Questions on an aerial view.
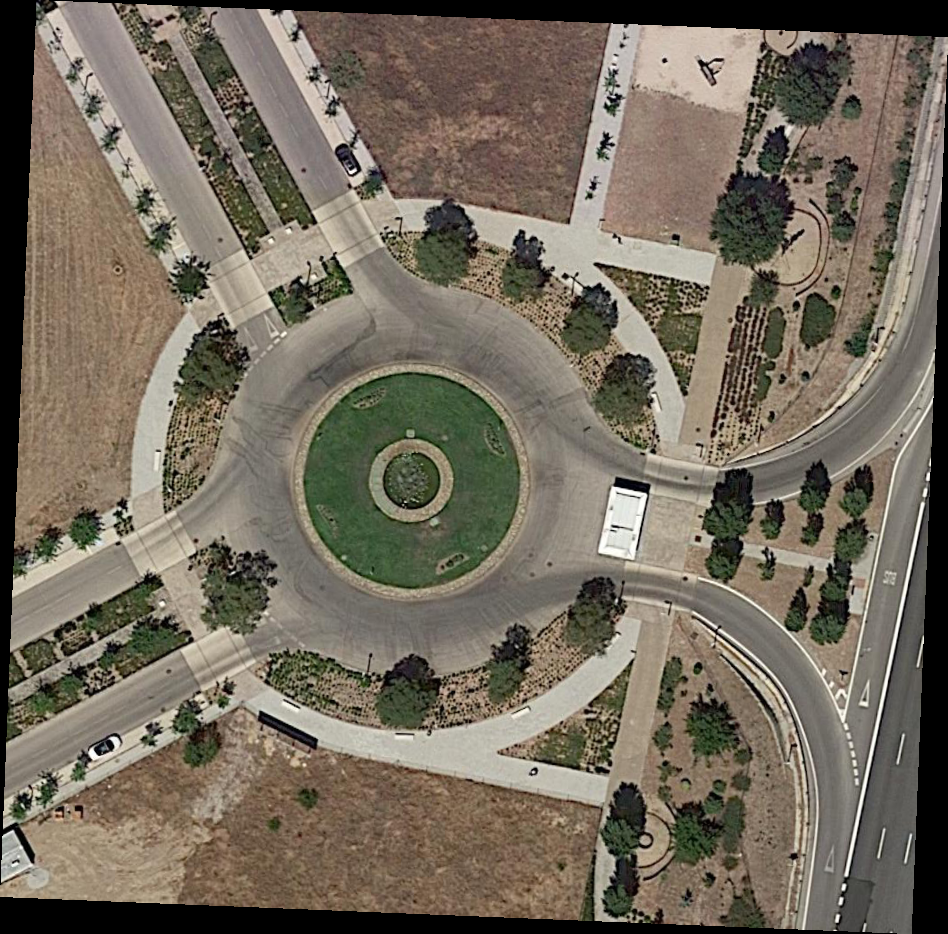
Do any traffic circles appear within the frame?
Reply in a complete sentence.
Yes, you can see a traffic circle in this photo.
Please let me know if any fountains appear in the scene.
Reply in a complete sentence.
Yes, a fountain appears in the view.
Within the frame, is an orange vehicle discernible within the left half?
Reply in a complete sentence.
No, looking within the left half, there is no orange vehicle.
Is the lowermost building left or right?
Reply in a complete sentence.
The lowermost building is on the left side of the image.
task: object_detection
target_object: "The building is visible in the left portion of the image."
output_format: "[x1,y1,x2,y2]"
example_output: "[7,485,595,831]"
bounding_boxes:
[0,830,31,884]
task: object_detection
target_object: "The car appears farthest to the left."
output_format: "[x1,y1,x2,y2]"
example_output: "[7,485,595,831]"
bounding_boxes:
[89,737,119,760]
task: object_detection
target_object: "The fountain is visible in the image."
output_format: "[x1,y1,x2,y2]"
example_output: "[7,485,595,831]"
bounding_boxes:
[369,439,454,522]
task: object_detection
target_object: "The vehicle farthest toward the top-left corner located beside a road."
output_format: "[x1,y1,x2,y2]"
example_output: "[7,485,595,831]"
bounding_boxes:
[336,145,359,176]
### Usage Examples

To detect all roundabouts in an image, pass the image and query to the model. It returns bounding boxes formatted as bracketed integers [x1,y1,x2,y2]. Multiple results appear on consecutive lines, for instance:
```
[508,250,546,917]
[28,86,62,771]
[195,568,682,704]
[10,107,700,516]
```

[178,247,649,677]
